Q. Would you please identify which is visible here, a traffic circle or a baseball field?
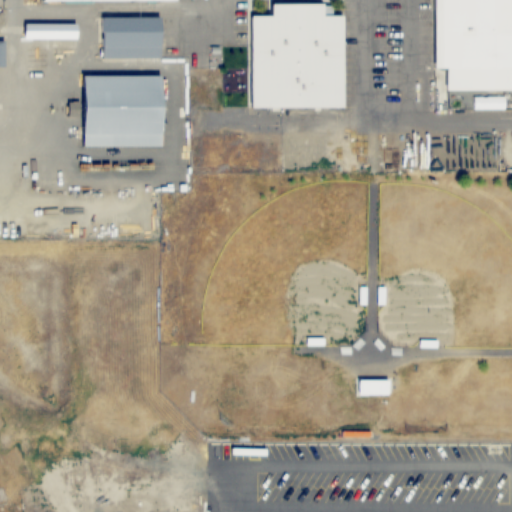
baseball field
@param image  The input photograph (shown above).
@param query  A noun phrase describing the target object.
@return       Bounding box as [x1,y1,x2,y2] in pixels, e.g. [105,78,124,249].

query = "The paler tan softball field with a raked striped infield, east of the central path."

[379,184,512,348]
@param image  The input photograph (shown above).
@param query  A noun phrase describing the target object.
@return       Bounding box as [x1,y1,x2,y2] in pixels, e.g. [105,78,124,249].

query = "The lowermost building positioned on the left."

[83,75,164,146]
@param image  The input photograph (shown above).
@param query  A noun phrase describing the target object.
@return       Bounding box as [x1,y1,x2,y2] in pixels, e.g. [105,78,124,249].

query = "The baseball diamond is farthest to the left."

[202,182,368,346]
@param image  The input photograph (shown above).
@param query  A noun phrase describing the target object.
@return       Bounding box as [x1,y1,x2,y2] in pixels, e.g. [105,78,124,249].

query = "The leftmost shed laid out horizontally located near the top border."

[26,24,80,40]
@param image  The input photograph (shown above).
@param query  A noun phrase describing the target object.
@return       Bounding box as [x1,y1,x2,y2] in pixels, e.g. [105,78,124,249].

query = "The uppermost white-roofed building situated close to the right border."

[434,0,512,92]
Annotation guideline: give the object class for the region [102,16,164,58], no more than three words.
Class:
building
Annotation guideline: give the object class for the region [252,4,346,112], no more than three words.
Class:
building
